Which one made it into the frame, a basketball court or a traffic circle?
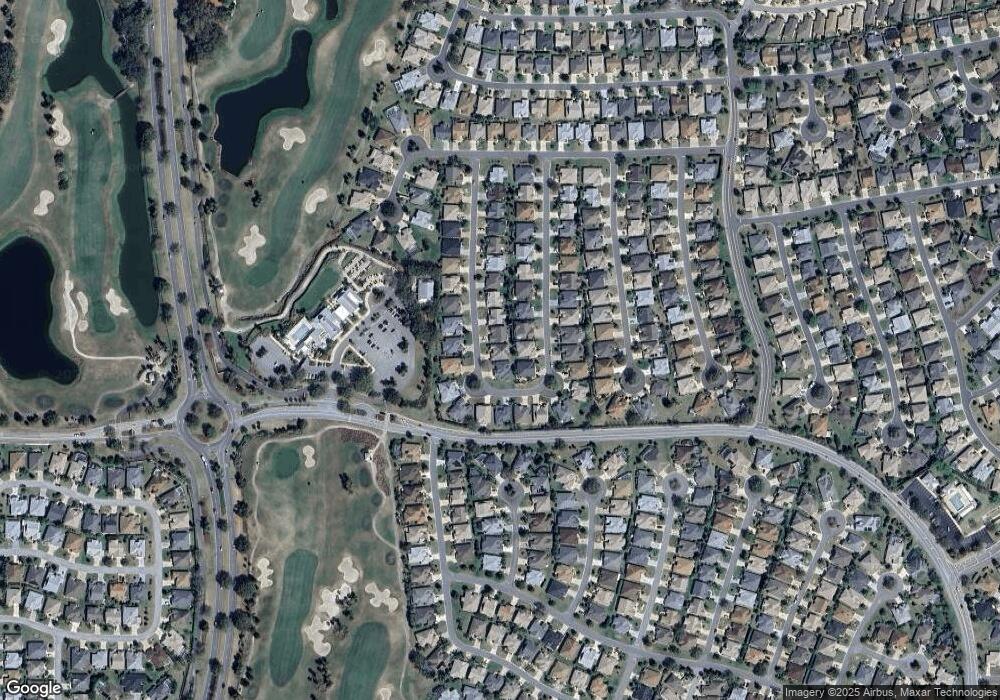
traffic circle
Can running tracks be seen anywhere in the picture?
No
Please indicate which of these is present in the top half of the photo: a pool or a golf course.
golf course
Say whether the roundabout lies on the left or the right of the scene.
left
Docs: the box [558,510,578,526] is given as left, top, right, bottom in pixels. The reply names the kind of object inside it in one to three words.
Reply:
house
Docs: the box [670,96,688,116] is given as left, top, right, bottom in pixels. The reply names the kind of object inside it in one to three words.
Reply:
house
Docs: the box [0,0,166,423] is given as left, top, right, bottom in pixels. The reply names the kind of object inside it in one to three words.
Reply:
golf course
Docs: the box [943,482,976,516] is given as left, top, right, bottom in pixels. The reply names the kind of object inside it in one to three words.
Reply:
swimming pool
